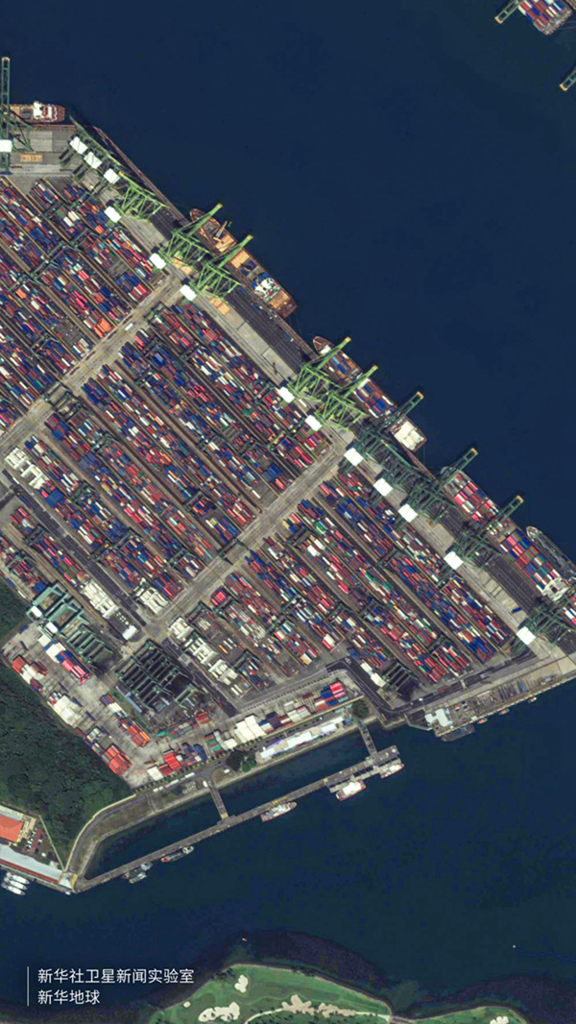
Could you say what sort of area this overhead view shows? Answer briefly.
port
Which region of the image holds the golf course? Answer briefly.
bottom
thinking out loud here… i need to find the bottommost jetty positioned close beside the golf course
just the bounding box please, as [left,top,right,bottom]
[75,745,402,892]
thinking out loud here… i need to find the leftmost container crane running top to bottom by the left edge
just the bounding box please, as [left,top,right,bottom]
[0,57,32,161]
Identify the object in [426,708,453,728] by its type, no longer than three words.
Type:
building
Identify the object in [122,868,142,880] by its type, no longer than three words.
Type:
ship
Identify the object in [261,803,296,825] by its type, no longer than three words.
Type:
ship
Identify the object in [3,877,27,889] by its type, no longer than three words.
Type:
boat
